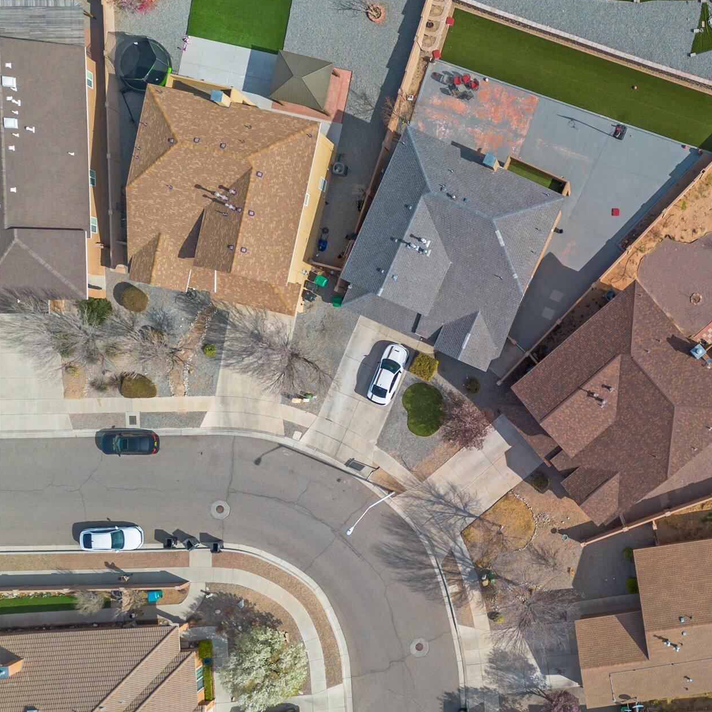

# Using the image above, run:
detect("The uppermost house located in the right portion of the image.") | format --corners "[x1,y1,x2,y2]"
[341,126,570,371]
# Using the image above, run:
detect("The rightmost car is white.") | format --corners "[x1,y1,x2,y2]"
[367,343,409,406]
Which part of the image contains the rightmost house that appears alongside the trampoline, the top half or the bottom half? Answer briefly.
top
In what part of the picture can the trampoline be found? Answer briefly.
top left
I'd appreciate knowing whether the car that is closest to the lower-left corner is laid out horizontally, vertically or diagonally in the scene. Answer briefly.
horizontally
